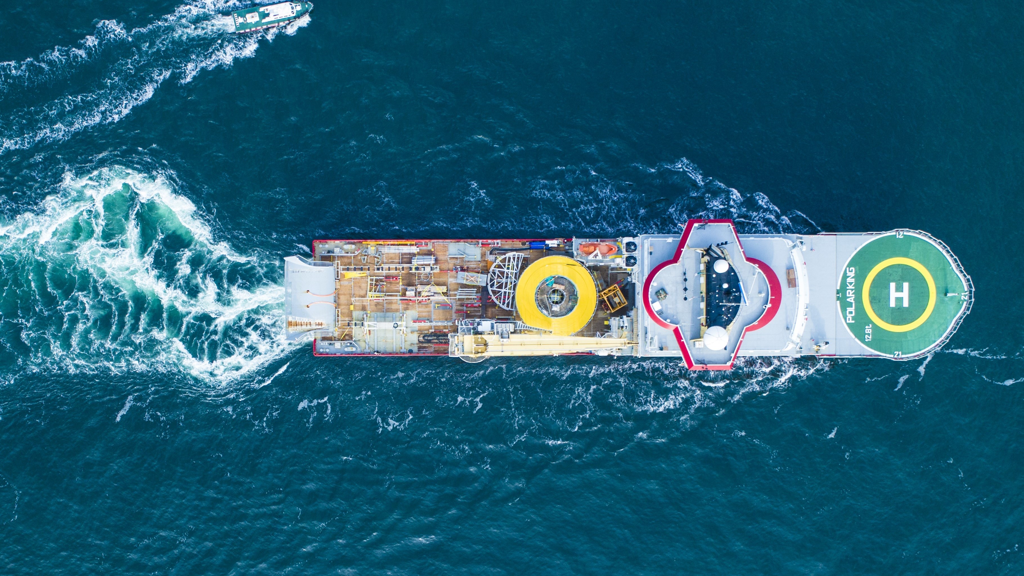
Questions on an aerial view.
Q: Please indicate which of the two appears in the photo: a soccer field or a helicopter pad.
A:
helicopter pad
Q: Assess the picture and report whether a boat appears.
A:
Yes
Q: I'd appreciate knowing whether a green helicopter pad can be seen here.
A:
Yes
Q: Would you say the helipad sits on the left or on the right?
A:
right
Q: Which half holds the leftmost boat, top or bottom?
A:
top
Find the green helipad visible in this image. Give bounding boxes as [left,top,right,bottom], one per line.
[836,228,975,361]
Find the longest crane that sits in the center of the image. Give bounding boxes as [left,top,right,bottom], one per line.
[448,318,639,363]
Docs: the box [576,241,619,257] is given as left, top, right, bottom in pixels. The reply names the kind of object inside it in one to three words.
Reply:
boat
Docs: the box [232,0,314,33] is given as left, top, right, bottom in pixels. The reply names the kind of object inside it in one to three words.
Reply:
boat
